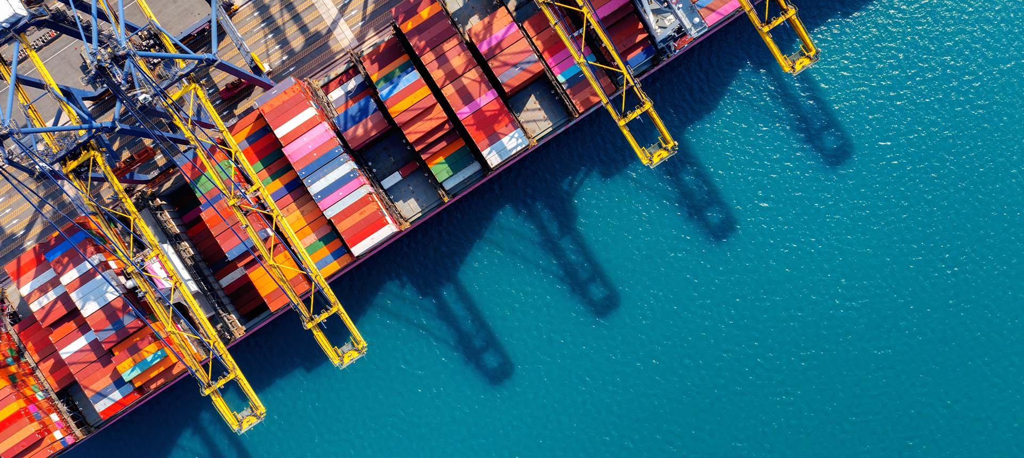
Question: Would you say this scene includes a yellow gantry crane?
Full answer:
Yes, you can see a yellow gantry crane in this photo.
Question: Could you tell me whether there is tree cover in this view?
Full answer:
No, the scene doesn't show any tree cover.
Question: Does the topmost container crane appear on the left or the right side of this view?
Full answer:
You can find the topmost container crane on the right side of the picture.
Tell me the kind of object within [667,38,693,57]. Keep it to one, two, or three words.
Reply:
boat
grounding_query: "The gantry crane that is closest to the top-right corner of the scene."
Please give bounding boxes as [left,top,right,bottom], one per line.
[742,0,823,80]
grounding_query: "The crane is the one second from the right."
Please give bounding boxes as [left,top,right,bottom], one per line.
[535,0,679,174]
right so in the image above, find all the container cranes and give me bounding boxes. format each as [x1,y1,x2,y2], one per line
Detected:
[742,0,823,80]
[535,0,679,174]
[59,0,368,374]
[0,0,269,437]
